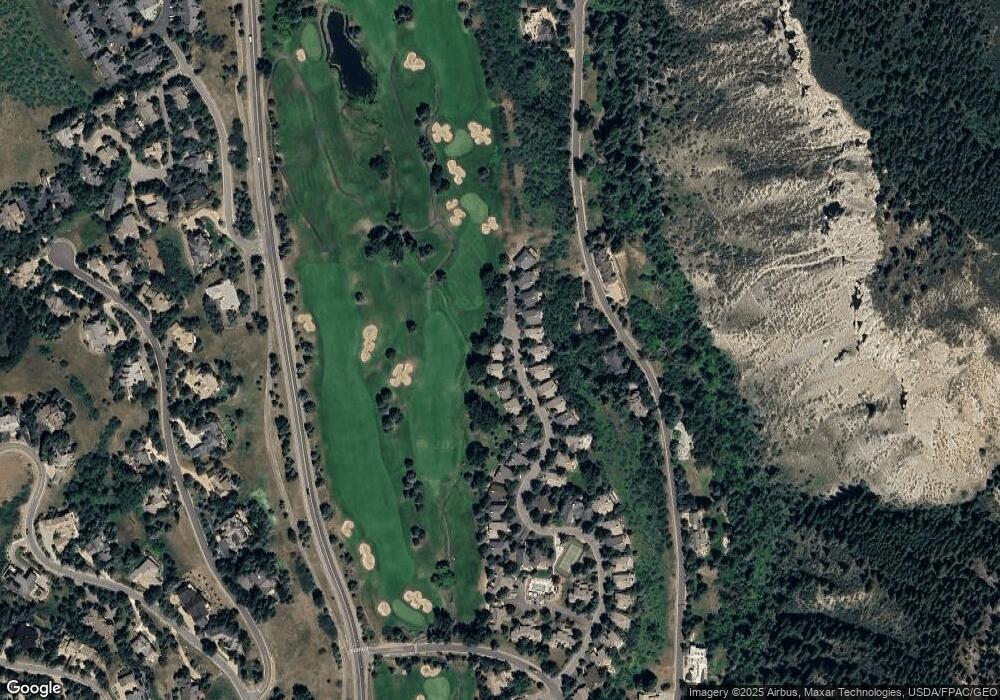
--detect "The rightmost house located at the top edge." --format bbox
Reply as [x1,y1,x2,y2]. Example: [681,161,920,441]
[535,16,564,41]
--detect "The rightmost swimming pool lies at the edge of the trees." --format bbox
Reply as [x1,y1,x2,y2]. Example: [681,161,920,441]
[524,575,558,601]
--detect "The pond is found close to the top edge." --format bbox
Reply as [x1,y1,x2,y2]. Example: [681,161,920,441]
[329,13,375,101]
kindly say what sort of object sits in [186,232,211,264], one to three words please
house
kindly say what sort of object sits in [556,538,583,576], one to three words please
tennis court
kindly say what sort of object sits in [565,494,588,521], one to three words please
house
